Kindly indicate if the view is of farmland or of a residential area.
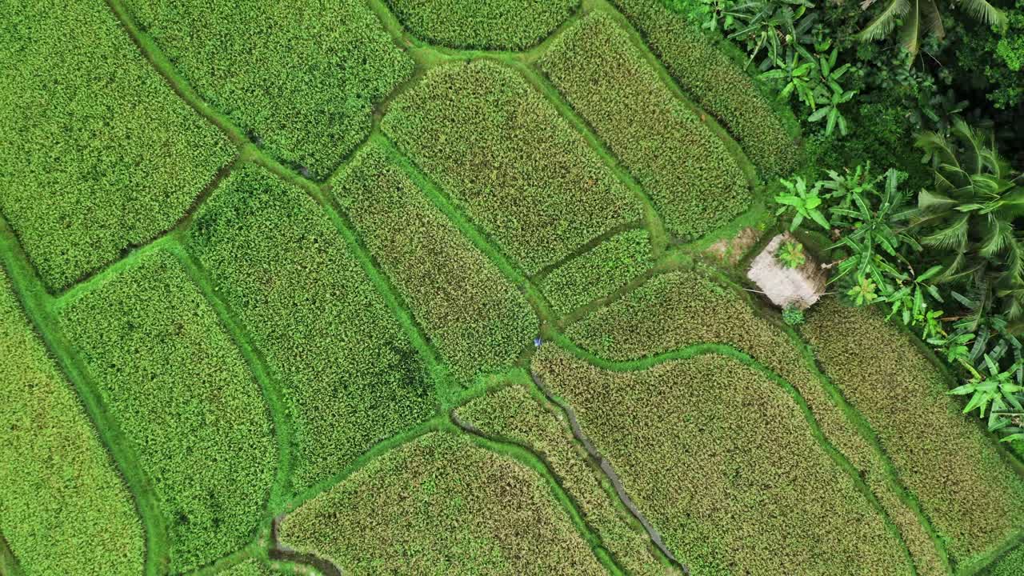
farmland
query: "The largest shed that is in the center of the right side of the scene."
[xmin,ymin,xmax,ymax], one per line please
[746,230,830,314]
